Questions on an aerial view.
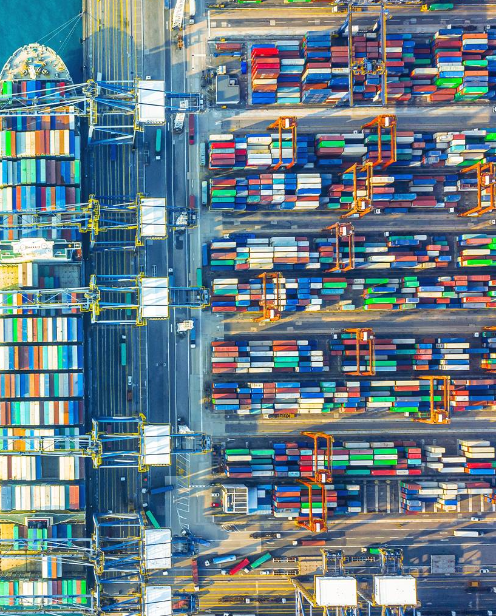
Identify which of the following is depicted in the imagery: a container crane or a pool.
container crane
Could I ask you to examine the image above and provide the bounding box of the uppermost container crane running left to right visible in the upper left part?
[0,77,208,162]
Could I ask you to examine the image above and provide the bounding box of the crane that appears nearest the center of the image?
[251,271,282,325]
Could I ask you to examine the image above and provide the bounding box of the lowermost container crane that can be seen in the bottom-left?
[0,561,215,616]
